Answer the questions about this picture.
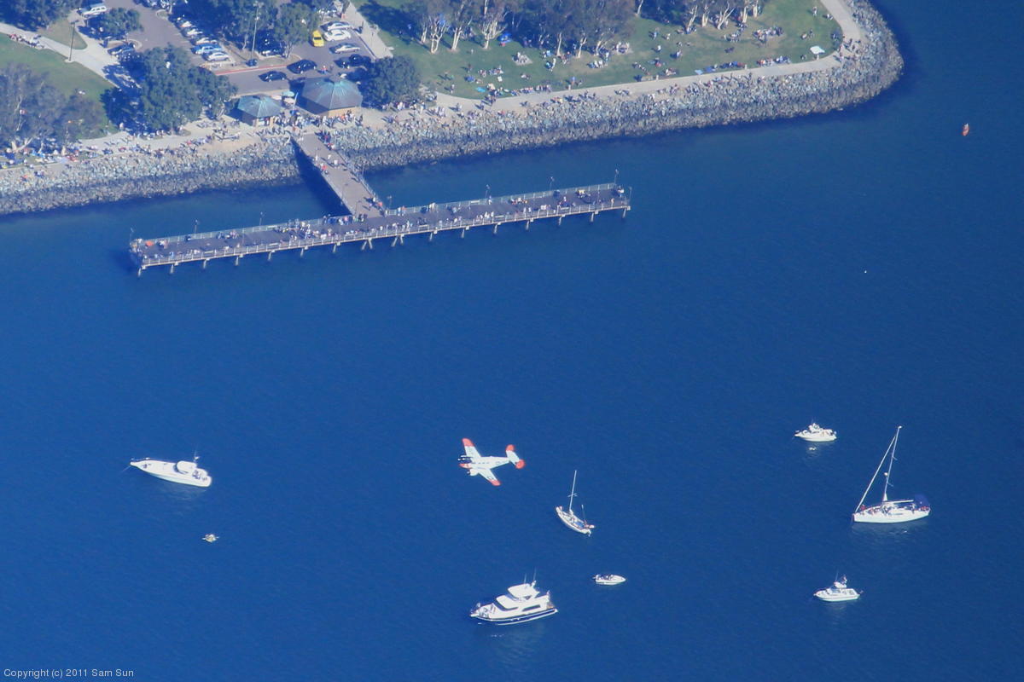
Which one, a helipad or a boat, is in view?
boat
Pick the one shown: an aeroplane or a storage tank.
aeroplane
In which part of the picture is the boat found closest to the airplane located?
bottom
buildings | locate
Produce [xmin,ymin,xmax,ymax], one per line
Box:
[237,95,282,131]
[301,78,364,124]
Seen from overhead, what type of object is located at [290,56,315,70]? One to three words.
car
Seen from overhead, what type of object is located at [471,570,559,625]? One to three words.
boat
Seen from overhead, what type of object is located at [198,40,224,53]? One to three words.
vehicle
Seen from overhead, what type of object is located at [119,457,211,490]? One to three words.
boat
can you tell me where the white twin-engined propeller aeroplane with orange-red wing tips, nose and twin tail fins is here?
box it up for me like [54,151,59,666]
[457,439,524,489]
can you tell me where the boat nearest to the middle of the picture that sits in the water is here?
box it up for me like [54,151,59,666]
[559,469,594,533]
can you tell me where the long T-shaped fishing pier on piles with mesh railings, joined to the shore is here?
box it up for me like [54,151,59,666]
[128,125,632,281]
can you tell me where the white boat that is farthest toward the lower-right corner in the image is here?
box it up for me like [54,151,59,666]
[816,579,862,602]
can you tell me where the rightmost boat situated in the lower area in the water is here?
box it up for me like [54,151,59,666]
[856,428,933,520]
